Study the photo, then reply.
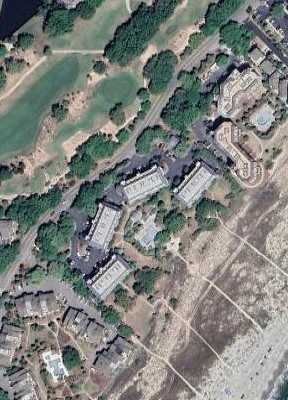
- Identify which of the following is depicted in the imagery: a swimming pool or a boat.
swimming pool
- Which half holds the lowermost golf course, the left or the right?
left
